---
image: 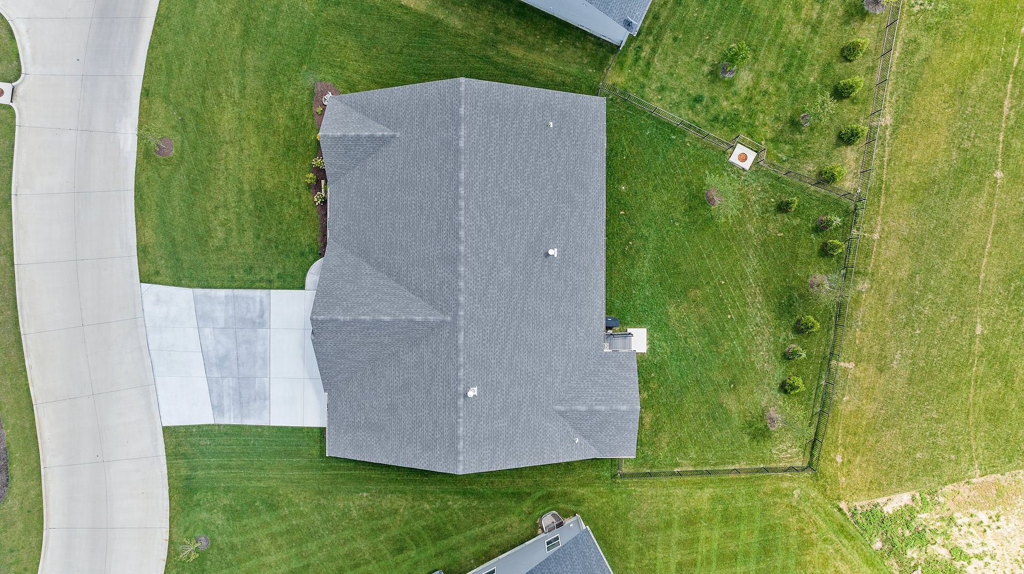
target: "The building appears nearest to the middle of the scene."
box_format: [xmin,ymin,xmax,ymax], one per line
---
[310,78,640,474]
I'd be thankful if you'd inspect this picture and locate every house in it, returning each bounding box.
[465,515,614,574]
[523,0,651,46]
[310,78,640,474]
